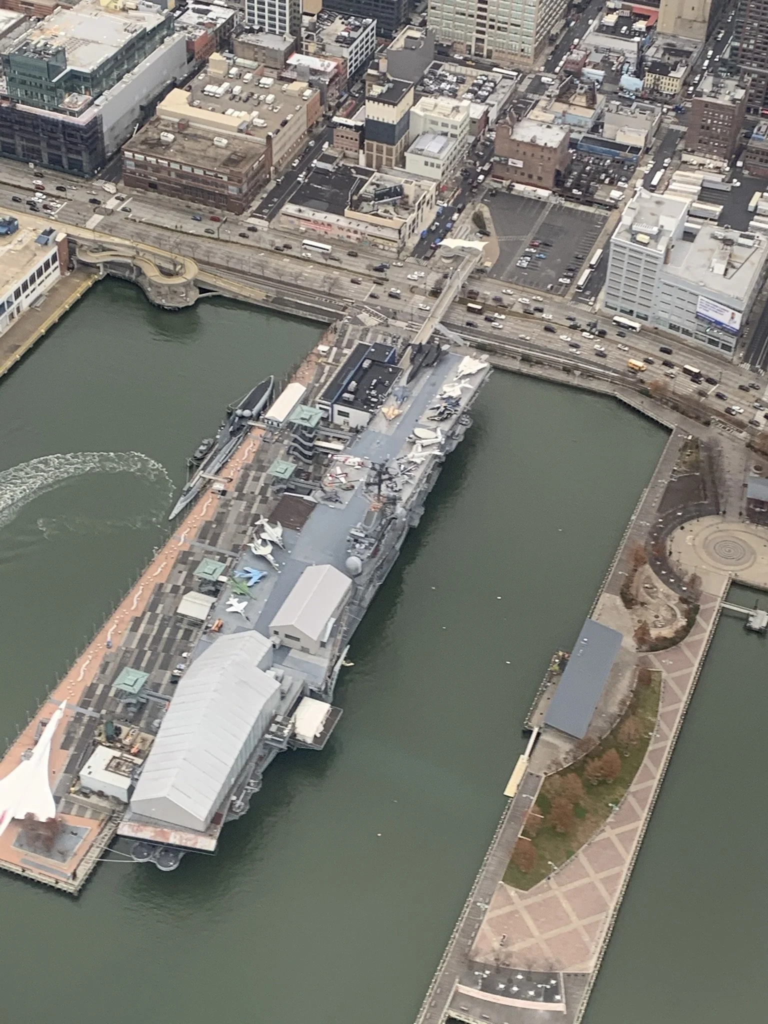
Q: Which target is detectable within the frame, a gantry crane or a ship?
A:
ship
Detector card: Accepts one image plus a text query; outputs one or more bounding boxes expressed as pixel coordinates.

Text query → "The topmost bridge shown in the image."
[0,210,197,290]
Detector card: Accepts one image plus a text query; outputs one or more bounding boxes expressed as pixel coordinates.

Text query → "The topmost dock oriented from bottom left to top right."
[0,269,98,381]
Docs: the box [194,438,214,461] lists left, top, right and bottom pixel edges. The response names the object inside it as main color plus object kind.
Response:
gray boat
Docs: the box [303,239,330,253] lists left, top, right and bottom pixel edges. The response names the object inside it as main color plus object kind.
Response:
white vehicle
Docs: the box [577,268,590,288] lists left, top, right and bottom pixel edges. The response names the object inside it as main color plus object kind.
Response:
white vehicle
